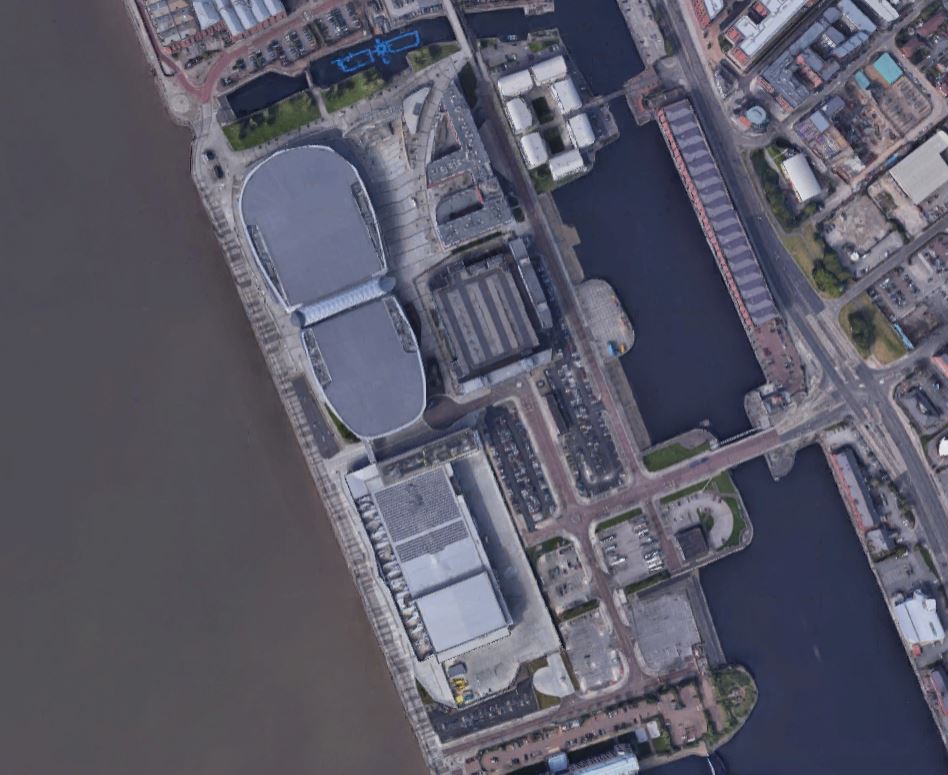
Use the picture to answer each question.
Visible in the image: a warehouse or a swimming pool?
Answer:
warehouse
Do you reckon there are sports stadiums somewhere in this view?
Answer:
Yes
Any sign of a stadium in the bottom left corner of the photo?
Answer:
No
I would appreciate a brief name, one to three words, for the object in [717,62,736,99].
building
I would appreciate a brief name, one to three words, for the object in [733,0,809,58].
building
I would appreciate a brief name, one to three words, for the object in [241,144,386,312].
stadium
